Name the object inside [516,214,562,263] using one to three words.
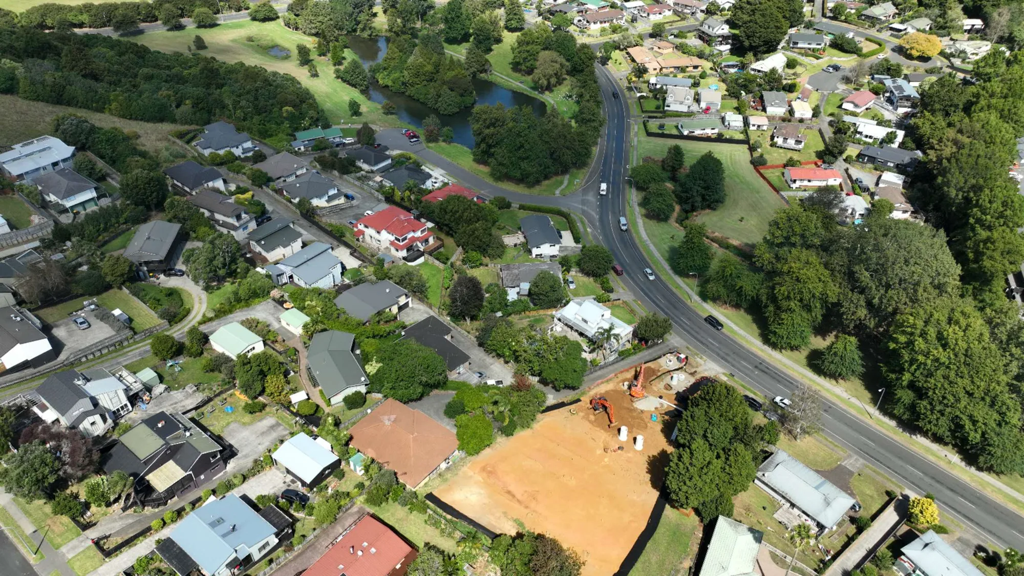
house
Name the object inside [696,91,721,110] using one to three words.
building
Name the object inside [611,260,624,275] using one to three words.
vehicle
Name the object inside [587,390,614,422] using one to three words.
work vehicle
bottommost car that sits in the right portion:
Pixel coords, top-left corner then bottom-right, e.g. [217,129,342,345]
[848,496,866,516]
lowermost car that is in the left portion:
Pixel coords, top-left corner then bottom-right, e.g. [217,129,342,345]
[281,486,306,502]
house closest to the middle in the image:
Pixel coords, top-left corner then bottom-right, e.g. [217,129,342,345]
[499,263,562,303]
